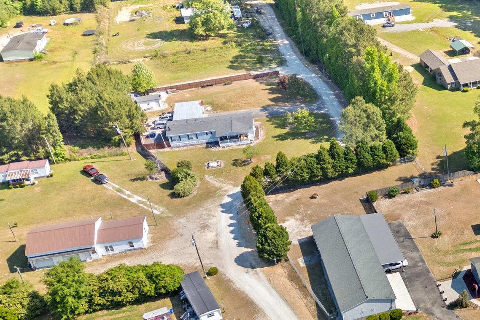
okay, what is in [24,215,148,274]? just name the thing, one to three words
barn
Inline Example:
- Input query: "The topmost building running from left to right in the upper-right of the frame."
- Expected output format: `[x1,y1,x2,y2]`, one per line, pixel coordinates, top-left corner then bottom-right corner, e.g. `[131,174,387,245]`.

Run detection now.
[350,4,411,26]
